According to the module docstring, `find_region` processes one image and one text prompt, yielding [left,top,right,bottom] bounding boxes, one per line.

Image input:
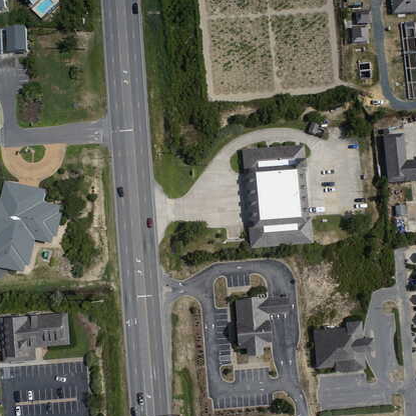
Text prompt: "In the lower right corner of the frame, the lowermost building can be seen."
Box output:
[312,320,375,373]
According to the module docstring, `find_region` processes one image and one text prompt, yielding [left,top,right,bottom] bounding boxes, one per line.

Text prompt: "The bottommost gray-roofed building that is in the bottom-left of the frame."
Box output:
[2,313,72,362]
